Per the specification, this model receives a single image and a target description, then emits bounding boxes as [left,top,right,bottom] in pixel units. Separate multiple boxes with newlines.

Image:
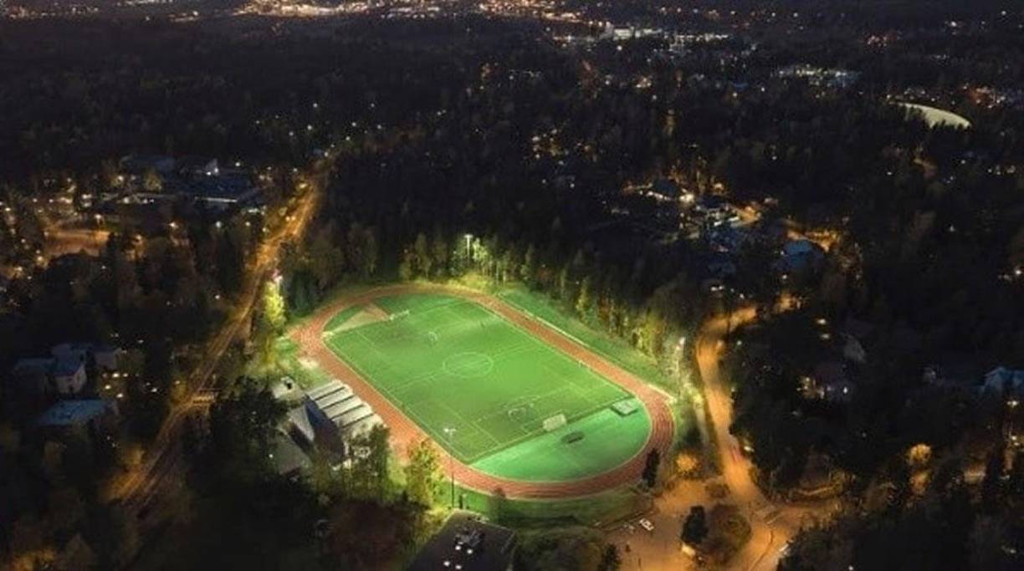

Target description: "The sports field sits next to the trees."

[323,296,637,468]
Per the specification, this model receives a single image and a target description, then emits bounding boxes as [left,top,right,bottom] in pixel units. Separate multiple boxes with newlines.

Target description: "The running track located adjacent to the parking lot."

[304,284,676,500]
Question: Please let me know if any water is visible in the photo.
No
